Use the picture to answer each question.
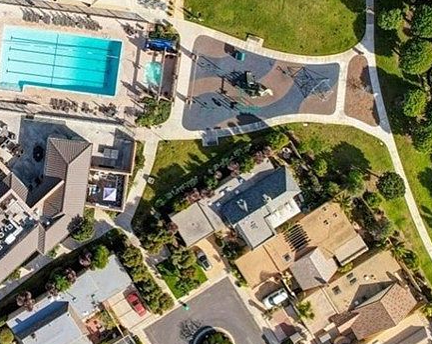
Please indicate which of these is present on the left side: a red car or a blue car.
red car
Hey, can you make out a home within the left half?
Yes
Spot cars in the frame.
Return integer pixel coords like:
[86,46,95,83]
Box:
[126,291,146,317]
[261,287,288,307]
[193,246,214,272]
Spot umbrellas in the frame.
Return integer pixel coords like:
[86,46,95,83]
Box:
[103,187,115,201]
[32,147,44,160]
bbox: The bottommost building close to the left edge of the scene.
[6,294,91,344]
